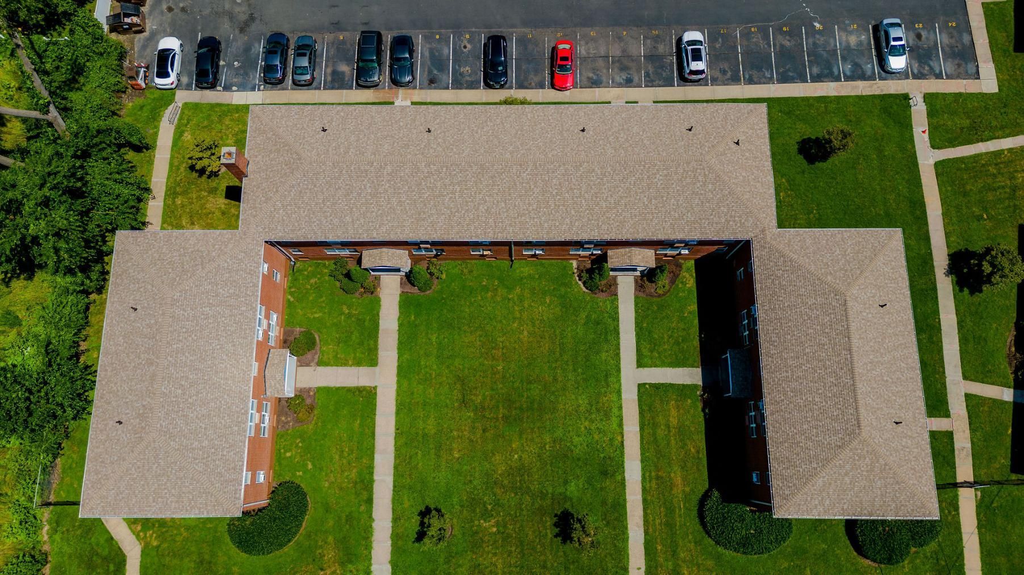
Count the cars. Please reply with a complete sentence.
I count 10 cars.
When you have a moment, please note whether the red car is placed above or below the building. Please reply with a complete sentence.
In the image, the red car sits above the building.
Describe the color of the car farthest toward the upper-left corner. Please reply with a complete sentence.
From above, the car farthest toward the upper-left corner appears white.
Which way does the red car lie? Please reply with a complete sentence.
I'd say the red car is aligned up and down in the picture.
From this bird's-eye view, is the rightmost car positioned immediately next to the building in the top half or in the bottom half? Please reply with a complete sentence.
The top half of the photo is where the rightmost car positioned immediately next to the building is.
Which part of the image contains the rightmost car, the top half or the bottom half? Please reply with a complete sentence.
Seen from above, the rightmost car lies in the top half of the view.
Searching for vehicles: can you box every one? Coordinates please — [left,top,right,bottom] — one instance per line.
[154,39,184,90]
[291,37,318,87]
[263,34,290,85]
[877,20,910,73]
[194,38,223,90]
[483,35,509,89]
[388,35,414,88]
[355,31,385,89]
[552,40,576,91]
[680,32,707,83]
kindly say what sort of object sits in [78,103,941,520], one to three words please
building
